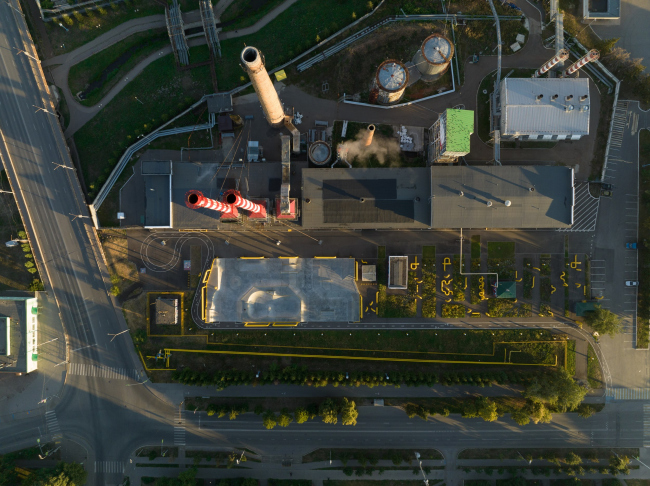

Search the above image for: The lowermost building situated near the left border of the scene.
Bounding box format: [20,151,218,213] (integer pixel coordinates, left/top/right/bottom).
[0,296,41,379]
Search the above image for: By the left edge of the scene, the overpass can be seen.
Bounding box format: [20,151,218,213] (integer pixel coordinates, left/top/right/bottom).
[0,0,133,353]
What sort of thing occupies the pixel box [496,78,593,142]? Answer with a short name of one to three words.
building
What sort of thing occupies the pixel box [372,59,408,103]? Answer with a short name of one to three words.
storage tank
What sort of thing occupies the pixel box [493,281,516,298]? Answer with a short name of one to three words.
shed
